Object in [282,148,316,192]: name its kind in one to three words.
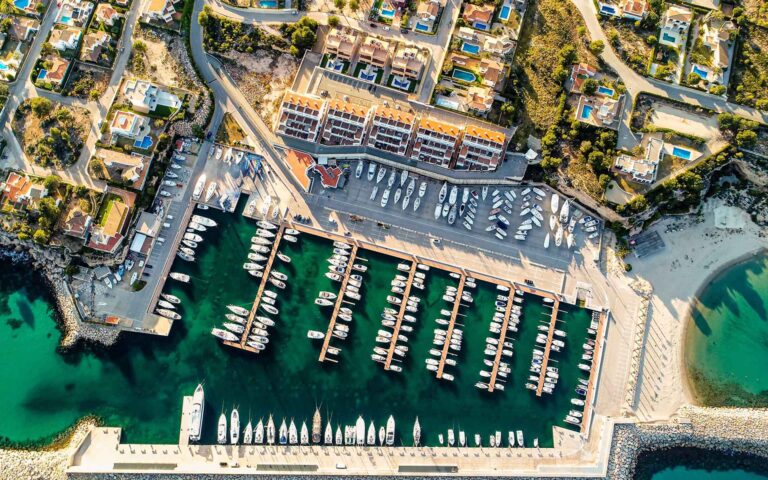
building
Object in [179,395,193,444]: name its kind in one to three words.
pier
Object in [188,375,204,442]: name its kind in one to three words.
boat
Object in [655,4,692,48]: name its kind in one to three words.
house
